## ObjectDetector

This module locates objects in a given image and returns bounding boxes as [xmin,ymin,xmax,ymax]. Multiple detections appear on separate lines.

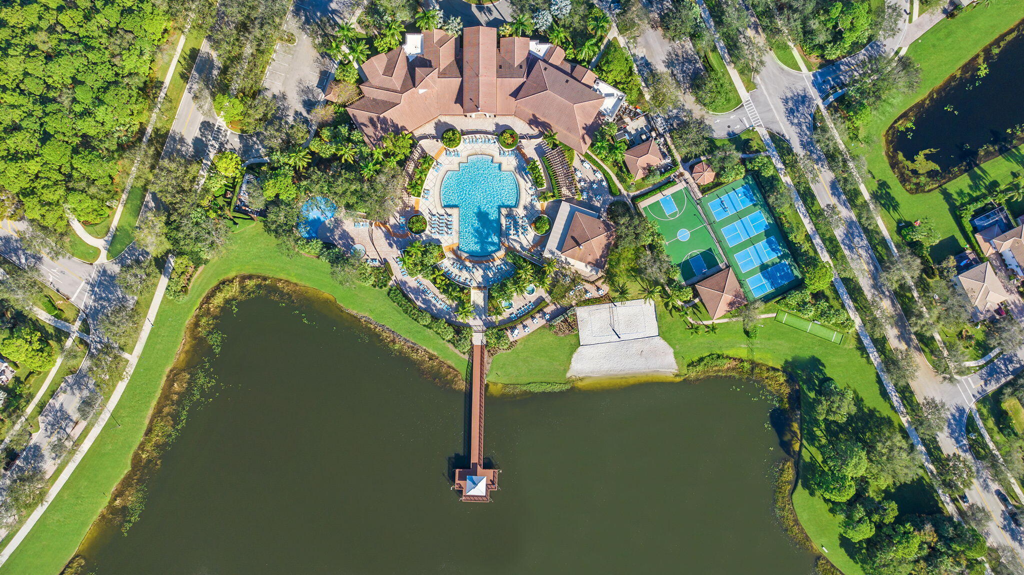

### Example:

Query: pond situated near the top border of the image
[886,23,1024,193]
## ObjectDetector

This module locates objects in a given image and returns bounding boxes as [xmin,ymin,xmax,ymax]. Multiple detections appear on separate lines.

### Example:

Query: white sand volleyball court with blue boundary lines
[576,299,659,346]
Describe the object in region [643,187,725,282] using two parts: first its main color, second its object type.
green basketball court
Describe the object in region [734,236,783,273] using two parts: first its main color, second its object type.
blue sports court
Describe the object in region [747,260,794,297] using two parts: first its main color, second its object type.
blue sports court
